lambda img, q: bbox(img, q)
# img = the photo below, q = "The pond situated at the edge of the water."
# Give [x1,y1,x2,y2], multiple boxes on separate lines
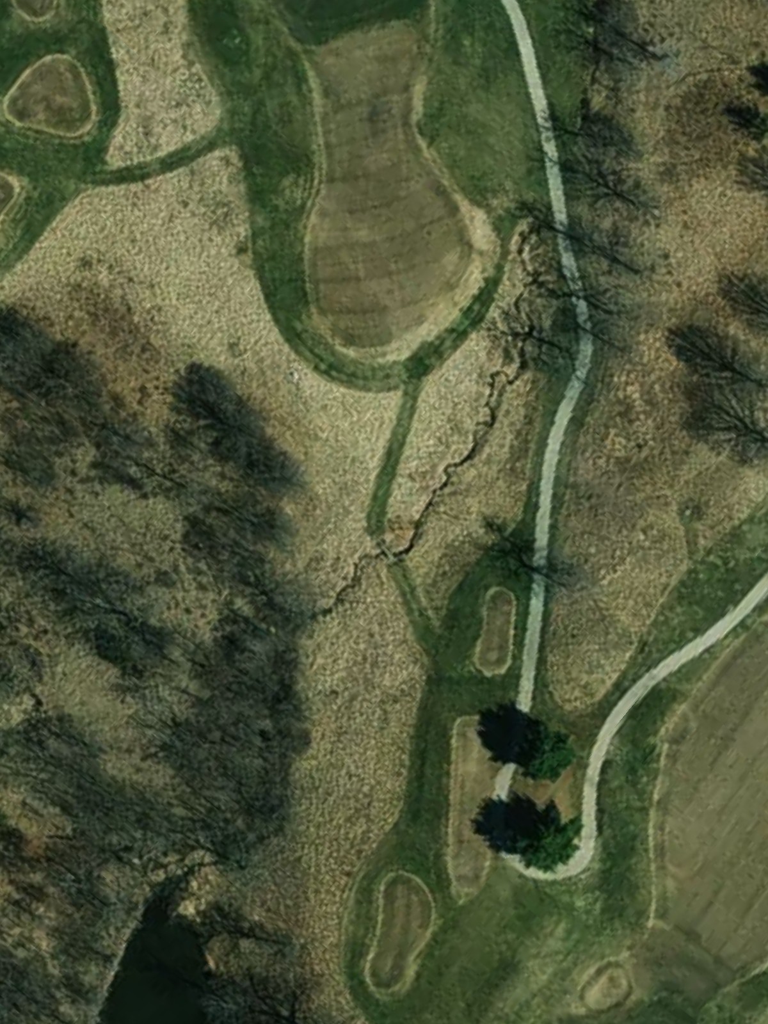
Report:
[95,860,210,1024]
